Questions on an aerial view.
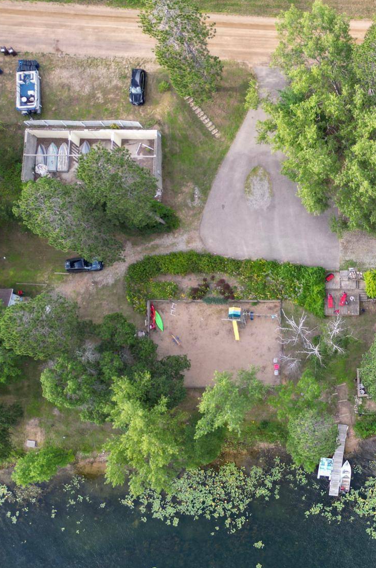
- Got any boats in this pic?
Yes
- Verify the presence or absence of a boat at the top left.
Yes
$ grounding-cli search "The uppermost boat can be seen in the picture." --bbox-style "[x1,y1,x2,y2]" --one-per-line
[14,65,40,113]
